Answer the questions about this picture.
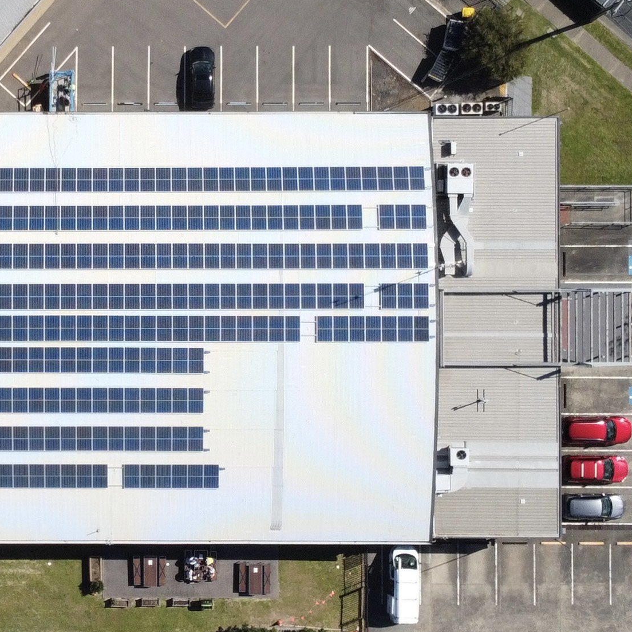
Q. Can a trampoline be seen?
No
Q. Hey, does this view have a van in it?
Yes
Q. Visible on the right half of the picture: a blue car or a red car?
red car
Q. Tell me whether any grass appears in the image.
Yes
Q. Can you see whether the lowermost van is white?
Yes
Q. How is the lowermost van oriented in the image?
from top to bottom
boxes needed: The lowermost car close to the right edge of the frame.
[562,493,622,522]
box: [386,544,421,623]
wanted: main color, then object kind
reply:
white van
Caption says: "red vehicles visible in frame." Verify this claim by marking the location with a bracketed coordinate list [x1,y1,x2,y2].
[562,454,627,484]
[562,416,630,447]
